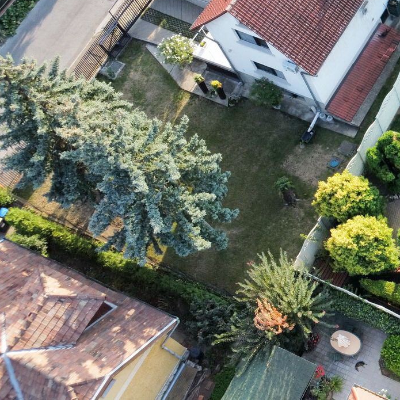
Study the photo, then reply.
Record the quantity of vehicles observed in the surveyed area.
zero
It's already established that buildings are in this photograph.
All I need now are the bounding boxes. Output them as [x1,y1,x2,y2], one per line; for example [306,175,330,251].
[170,0,400,125]
[215,344,321,400]
[0,242,194,400]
